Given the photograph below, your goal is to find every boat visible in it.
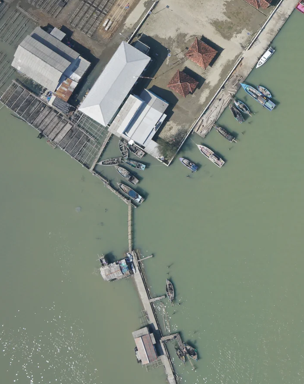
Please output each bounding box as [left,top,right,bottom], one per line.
[196,145,225,167]
[239,83,276,111]
[98,158,123,166]
[184,342,199,362]
[115,166,139,184]
[229,105,244,123]
[125,161,146,169]
[119,141,130,159]
[117,183,144,204]
[179,158,198,172]
[124,142,144,157]
[257,86,272,99]
[166,279,175,301]
[215,125,235,144]
[255,46,276,68]
[234,101,251,115]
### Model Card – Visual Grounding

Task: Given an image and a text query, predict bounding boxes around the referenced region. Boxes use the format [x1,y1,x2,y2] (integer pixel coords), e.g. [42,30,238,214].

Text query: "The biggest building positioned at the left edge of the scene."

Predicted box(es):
[12,35,76,92]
